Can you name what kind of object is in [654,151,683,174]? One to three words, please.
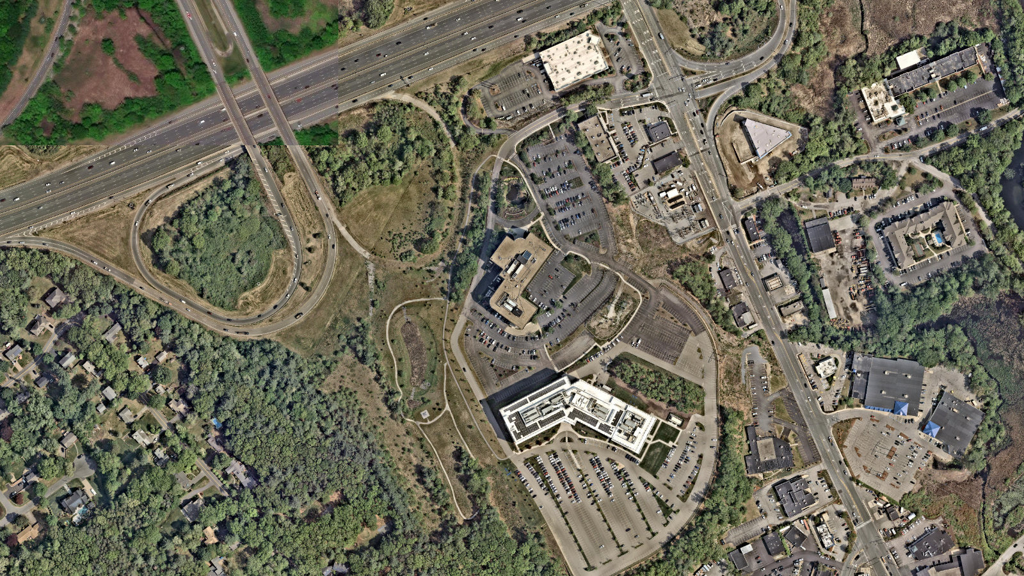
building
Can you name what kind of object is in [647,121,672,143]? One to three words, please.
building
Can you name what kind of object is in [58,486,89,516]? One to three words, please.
house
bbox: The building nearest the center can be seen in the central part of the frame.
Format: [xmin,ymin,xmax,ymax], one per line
[490,232,554,329]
